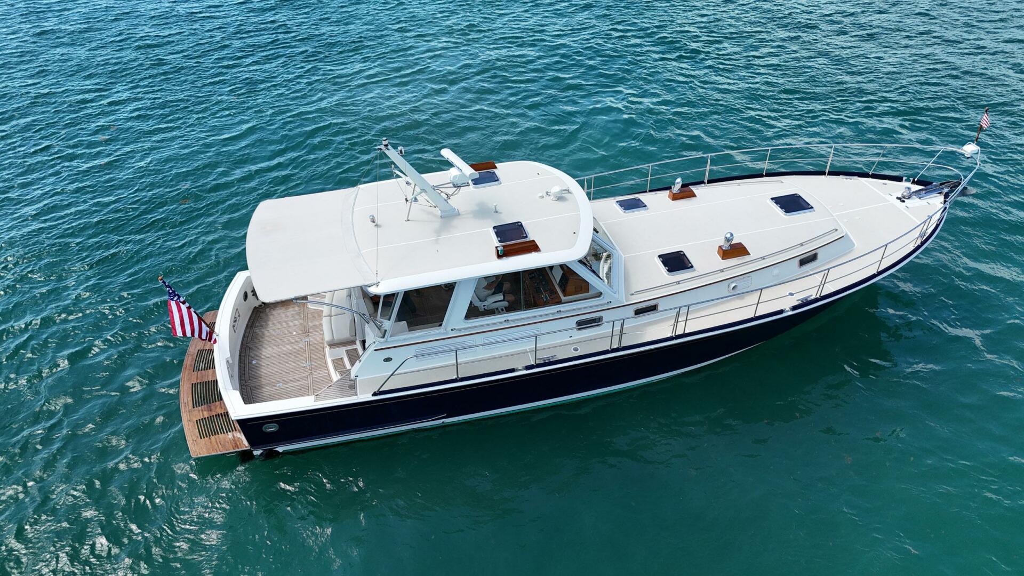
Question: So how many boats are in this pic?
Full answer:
In total, there is 1 boat in the scene.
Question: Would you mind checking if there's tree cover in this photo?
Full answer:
No, no tree cover is visible.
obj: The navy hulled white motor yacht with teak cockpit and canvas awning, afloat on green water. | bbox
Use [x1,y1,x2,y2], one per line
[175,132,990,465]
